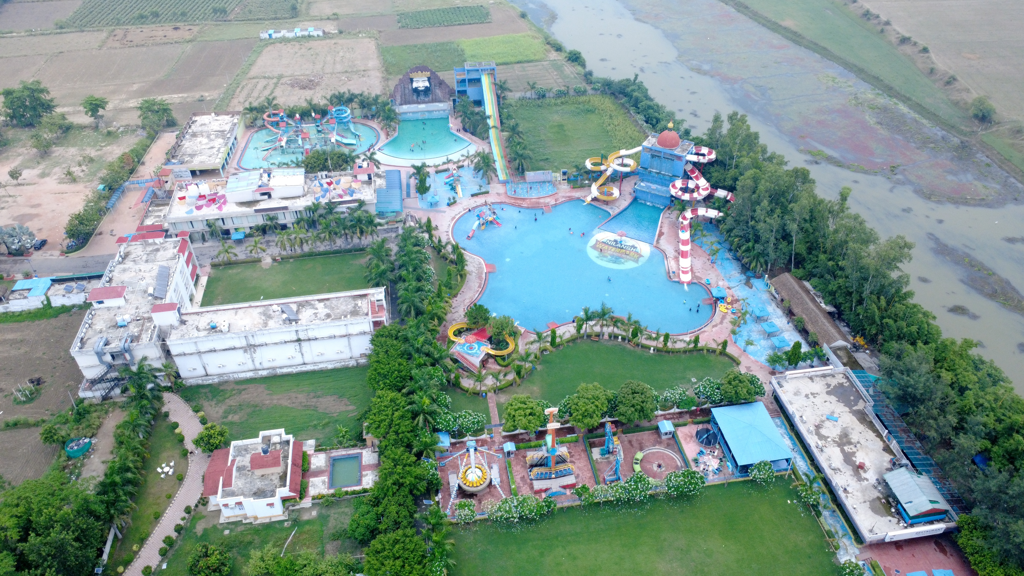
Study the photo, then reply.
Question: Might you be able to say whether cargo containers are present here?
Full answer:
No, I find no cargo container anywhere in the image.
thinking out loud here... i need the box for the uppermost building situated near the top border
[260,27,326,41]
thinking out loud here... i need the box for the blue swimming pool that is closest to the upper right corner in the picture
[595,195,673,245]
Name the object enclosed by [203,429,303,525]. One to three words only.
house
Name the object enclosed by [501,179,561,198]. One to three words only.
swimming pool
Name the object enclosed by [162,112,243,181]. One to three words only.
building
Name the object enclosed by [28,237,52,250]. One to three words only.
vehicle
